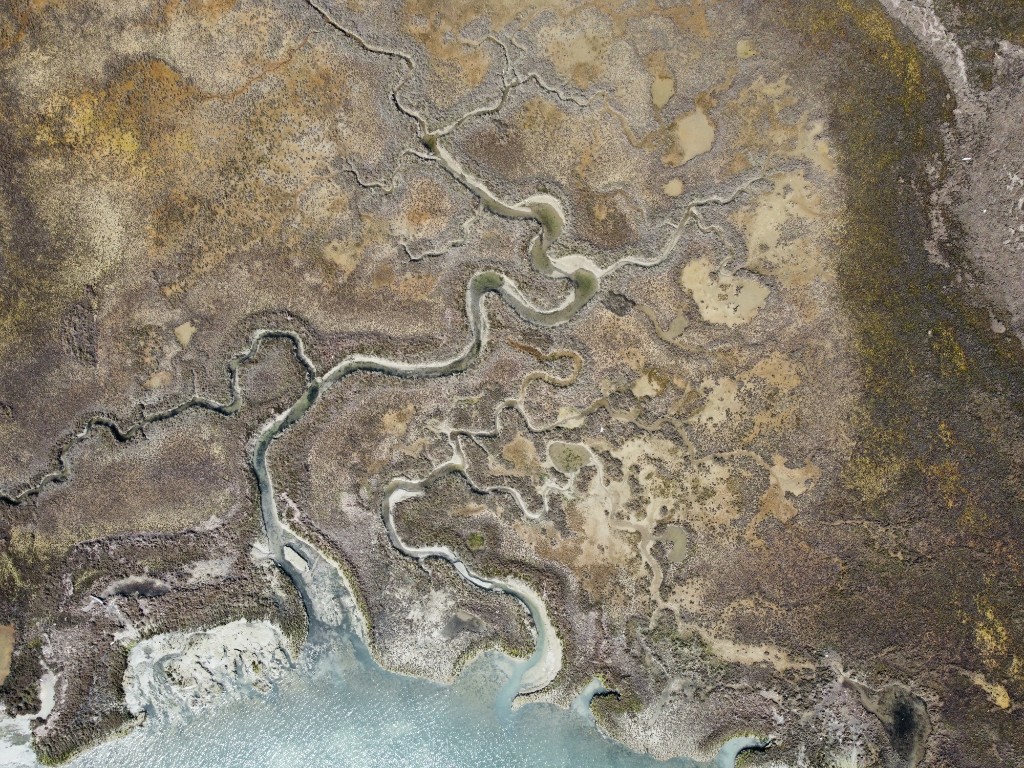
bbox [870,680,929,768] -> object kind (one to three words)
pond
